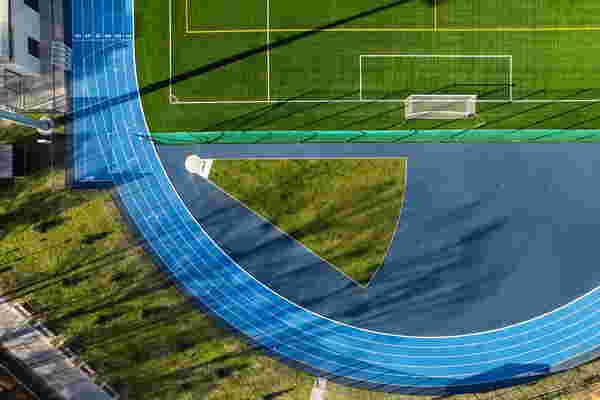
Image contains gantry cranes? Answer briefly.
No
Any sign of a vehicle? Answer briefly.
No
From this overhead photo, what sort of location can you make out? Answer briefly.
sports ground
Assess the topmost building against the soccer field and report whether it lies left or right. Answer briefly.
to the left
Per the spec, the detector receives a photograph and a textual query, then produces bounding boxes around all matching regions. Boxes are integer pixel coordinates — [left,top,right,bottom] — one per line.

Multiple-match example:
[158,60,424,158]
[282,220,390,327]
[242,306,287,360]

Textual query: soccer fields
[134,0,600,142]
